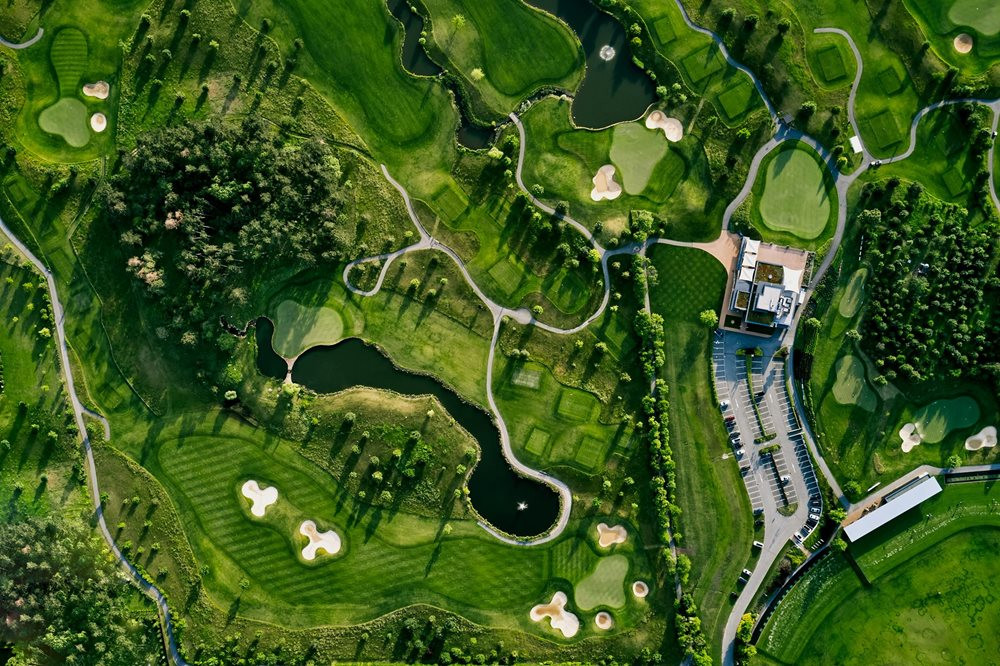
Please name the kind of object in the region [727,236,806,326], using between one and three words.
building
